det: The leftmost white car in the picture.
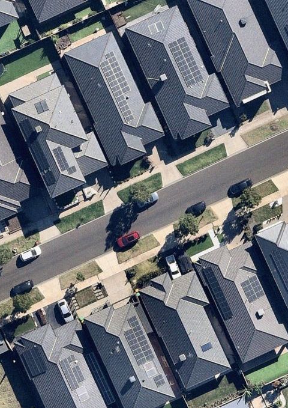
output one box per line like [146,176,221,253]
[17,245,45,264]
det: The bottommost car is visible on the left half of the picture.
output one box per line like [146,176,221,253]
[55,296,74,323]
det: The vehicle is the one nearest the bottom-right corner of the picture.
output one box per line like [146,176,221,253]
[162,249,180,274]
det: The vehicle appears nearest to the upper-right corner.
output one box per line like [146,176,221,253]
[225,177,254,198]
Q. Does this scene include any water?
No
